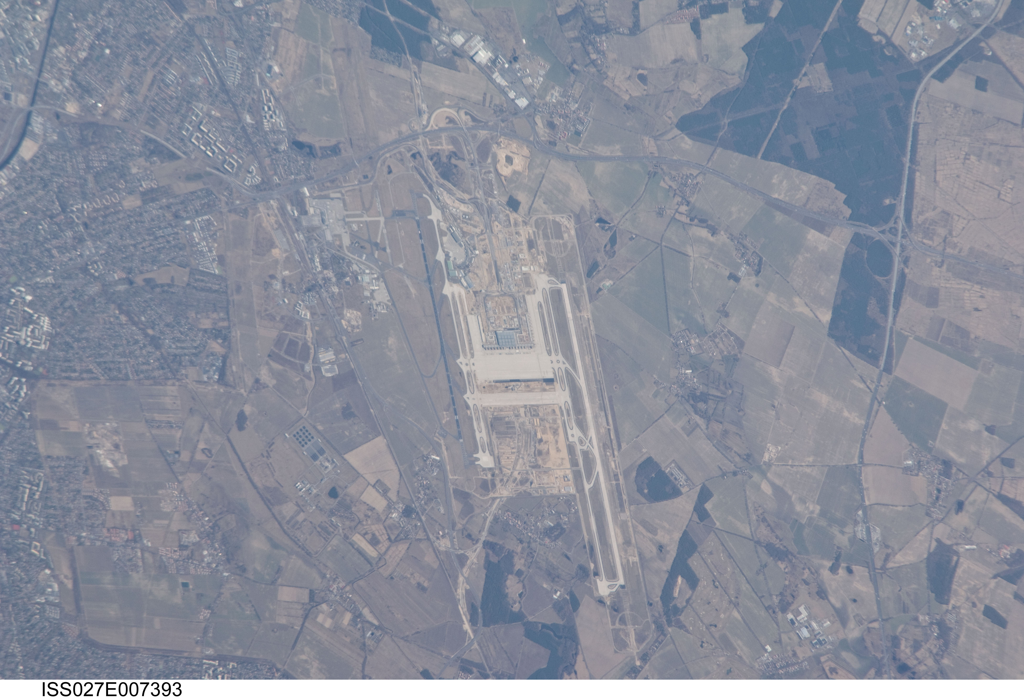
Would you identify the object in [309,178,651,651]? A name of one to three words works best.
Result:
airport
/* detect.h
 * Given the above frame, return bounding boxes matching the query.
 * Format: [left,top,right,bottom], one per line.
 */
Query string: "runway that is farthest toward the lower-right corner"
[560,279,626,589]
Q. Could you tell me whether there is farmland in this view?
Yes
